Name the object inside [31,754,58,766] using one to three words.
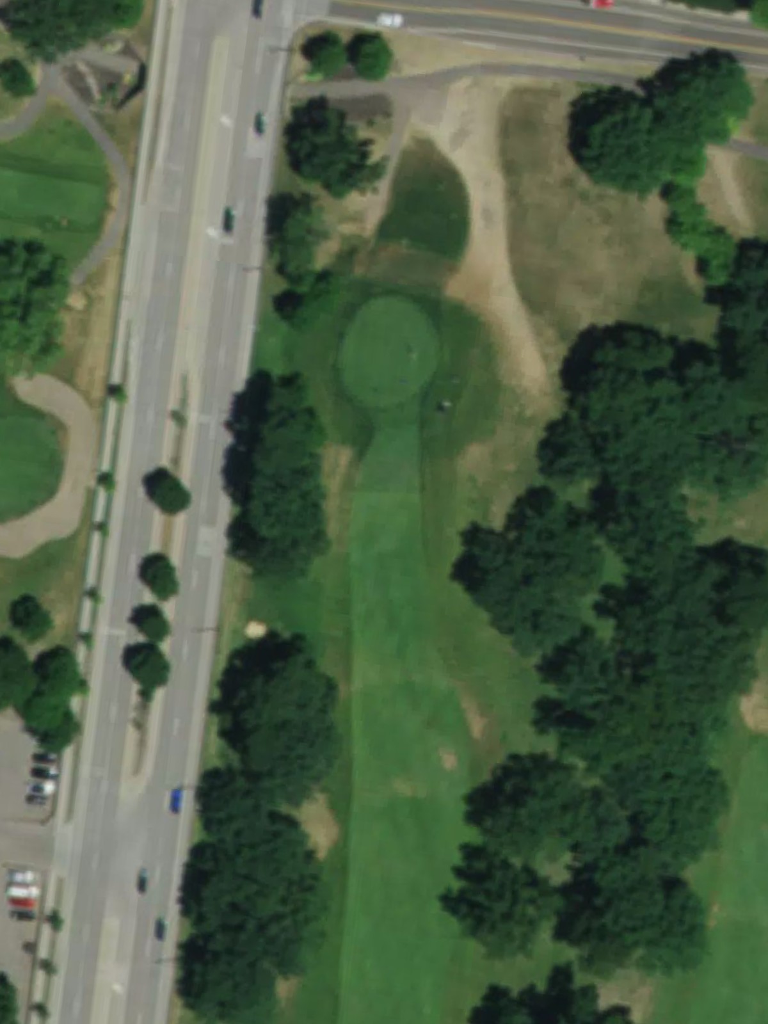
vehicle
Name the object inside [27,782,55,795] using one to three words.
vehicle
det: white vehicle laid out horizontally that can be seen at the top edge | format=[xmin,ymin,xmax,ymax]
[376,14,404,27]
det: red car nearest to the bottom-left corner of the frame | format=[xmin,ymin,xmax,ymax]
[8,897,35,910]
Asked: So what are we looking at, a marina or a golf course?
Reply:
golf course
